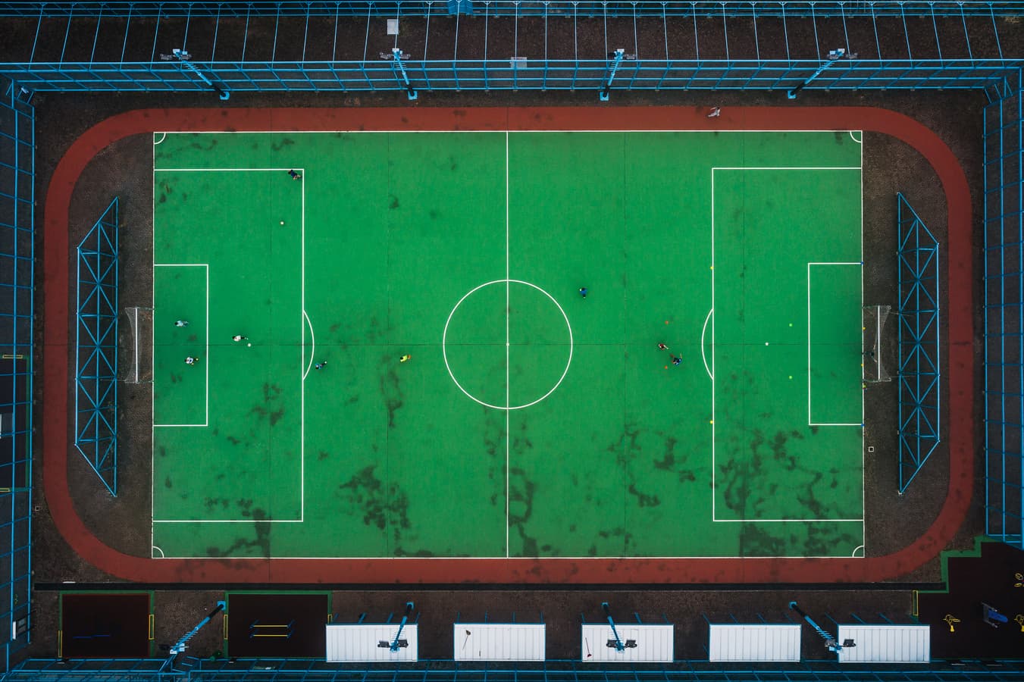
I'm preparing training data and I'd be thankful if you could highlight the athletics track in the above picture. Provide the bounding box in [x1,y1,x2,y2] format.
[44,106,973,583]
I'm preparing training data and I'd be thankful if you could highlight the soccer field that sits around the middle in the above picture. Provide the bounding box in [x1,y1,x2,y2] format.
[152,130,865,559]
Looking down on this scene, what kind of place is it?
sports ground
